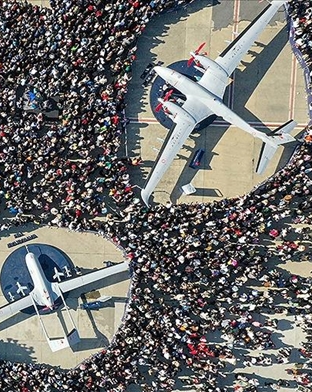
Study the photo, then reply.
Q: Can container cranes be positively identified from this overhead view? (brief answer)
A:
No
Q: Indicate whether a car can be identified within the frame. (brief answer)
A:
No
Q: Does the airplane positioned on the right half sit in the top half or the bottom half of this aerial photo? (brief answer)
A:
top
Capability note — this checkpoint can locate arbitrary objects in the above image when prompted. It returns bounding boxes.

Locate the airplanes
[0,247,128,351]
[144,0,299,208]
